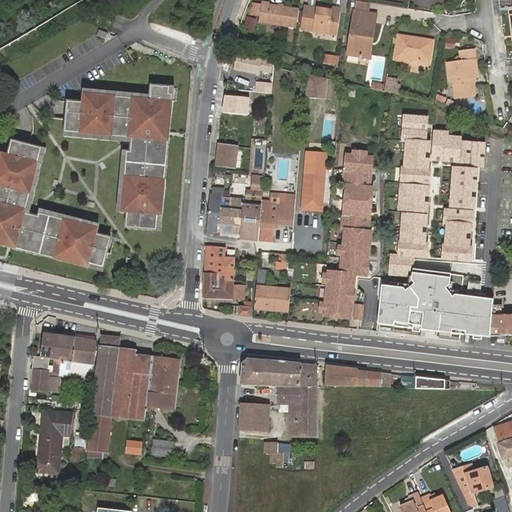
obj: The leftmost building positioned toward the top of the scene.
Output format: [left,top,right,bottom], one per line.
[0,136,46,249]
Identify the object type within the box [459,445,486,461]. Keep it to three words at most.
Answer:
swimming pool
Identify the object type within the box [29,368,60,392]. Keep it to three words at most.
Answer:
house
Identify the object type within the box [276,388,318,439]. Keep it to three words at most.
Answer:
building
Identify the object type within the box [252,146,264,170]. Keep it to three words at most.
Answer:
swimming pool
